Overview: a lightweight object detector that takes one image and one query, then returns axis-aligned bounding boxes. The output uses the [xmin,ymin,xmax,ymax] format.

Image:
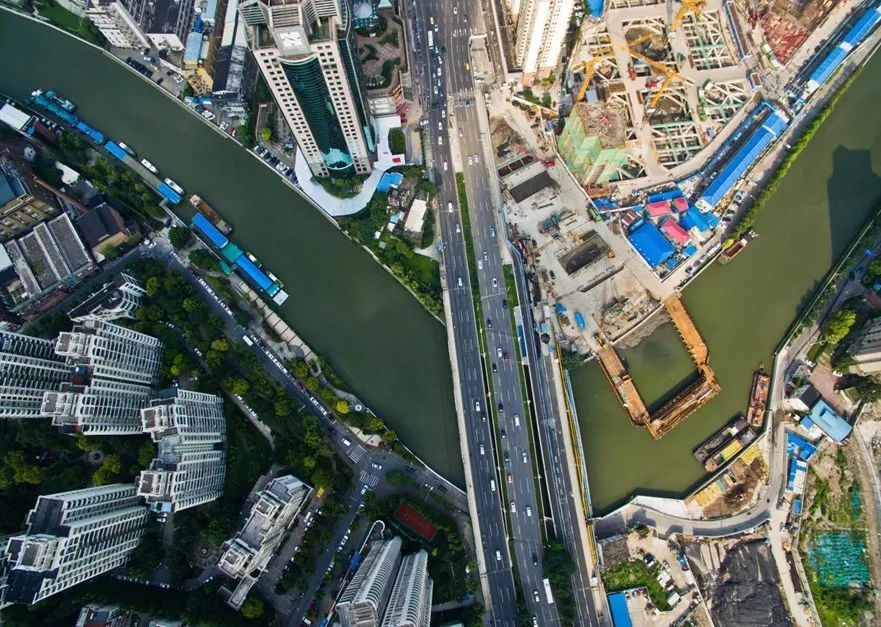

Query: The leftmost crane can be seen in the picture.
[568,30,657,102]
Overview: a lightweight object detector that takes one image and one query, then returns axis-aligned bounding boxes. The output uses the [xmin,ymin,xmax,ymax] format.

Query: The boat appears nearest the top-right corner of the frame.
[722,231,757,262]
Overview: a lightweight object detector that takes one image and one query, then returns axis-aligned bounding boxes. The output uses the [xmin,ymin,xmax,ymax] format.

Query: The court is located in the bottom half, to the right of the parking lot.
[385,495,444,550]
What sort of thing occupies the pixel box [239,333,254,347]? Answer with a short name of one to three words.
vehicle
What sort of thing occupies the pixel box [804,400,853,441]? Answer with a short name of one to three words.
building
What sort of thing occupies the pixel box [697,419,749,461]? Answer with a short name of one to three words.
ship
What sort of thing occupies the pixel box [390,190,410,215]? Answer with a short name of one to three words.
shed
